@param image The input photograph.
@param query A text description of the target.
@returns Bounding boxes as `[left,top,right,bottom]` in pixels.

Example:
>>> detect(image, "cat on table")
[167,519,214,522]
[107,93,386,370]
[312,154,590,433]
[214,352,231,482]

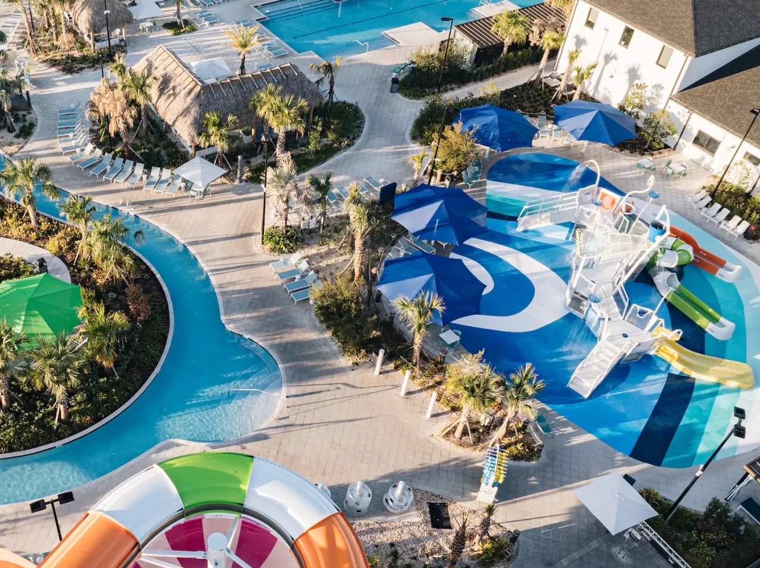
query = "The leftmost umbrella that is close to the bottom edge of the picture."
[570,471,657,547]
